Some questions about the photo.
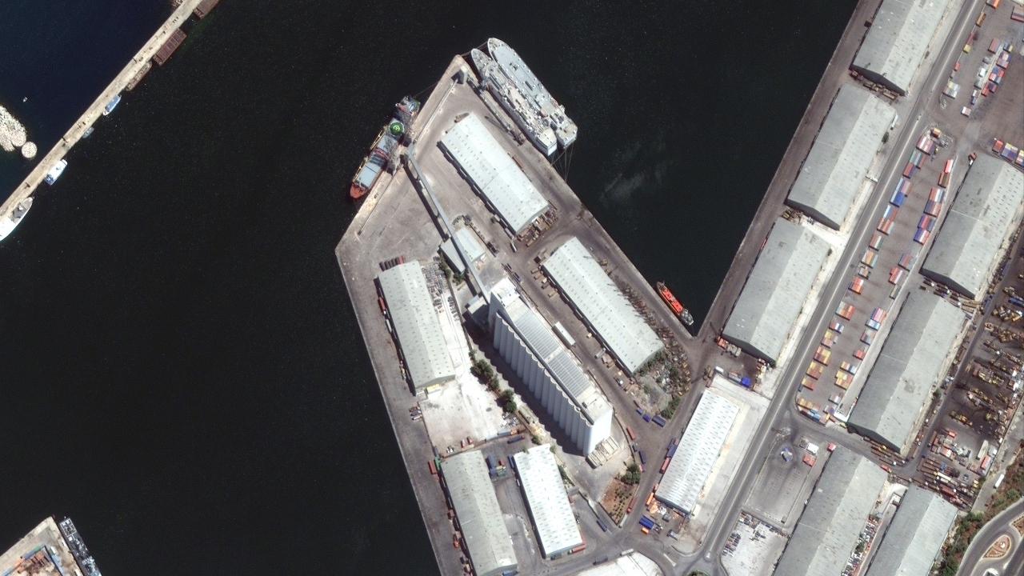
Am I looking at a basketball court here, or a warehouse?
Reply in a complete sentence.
It is a warehouse that can be seen here.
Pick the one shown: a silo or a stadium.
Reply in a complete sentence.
The one in the frame is a silo.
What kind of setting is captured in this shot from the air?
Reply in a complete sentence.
This looks like a port.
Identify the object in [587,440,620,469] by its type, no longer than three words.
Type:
shed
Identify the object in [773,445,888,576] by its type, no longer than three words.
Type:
warehouse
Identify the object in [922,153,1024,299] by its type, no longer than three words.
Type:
building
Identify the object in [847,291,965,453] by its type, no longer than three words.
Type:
warehouse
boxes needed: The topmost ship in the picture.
[194,0,222,21]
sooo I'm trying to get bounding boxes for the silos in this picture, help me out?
[489,277,617,458]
